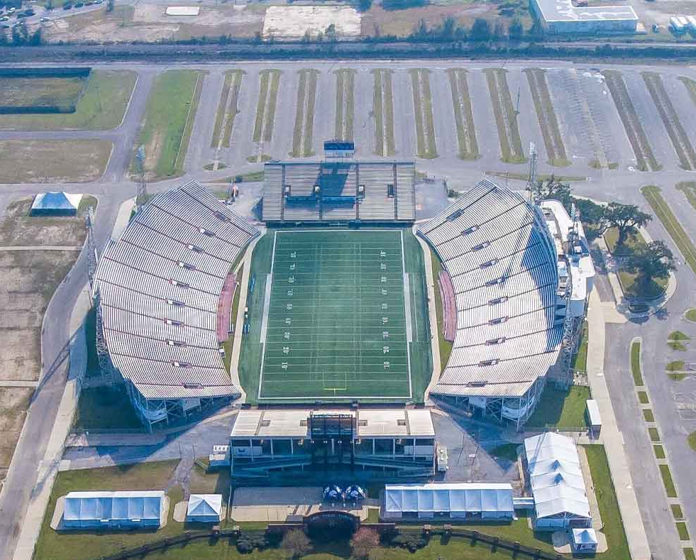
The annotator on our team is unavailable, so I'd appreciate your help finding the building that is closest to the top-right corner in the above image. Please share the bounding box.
[528,0,637,34]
